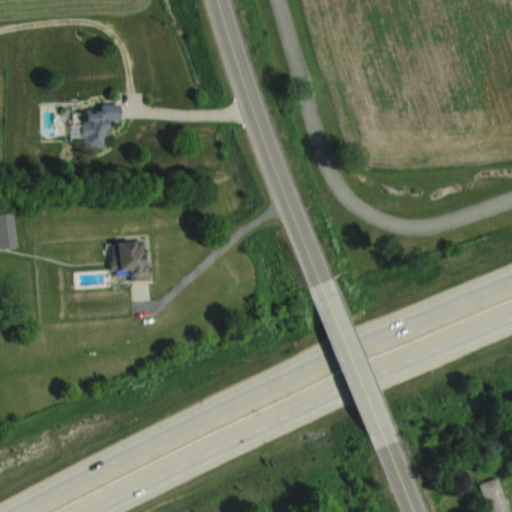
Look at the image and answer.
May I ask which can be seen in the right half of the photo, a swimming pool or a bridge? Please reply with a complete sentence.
There is a bridge in the right half of the photo.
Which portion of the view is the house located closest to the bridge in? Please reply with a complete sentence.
The house located closest to the bridge appears toward the bottom right of the photo.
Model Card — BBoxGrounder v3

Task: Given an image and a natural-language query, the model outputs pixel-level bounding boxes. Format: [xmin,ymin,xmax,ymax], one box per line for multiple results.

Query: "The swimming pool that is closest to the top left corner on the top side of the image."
[40,104,66,138]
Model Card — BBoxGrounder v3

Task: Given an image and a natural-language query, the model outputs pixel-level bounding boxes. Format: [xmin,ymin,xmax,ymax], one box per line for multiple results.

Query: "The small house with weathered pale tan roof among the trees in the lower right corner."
[479,483,508,512]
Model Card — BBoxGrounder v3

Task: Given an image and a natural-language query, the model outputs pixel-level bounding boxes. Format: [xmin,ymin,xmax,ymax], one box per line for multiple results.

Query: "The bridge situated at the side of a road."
[309,276,400,452]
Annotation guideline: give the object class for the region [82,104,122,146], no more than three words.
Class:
house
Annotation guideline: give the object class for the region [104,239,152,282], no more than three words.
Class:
house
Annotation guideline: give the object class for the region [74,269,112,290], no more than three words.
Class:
swimming pool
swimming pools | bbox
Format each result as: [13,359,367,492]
[74,269,112,290]
[40,104,66,138]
